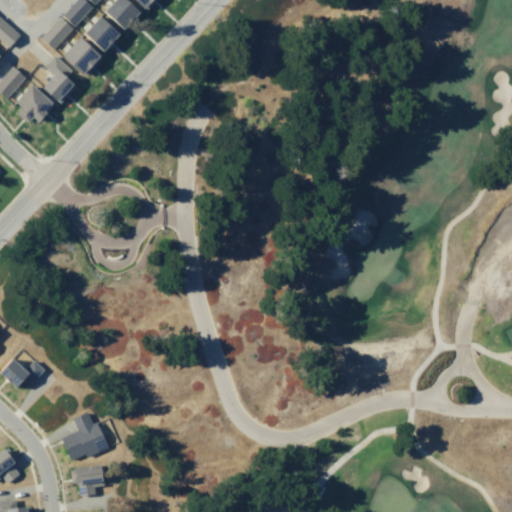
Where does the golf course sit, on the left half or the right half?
right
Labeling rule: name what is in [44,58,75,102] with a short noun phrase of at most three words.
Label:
house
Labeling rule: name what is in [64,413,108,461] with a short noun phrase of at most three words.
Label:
house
